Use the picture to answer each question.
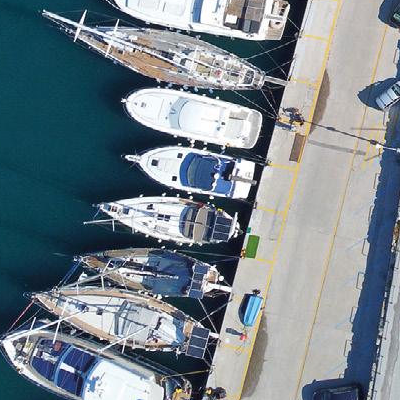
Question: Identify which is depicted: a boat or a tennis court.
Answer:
boat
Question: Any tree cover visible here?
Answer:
No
